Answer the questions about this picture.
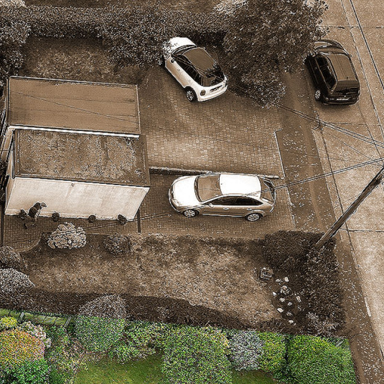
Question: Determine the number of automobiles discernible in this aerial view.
3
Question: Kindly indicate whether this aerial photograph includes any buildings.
Yes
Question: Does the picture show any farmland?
No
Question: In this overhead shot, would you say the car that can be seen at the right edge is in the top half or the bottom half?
top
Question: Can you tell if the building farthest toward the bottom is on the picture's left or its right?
left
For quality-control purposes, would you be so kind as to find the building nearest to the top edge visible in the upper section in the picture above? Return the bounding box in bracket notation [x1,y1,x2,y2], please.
[0,74,141,154]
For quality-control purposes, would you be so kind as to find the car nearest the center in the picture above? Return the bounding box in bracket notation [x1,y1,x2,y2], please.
[168,170,280,227]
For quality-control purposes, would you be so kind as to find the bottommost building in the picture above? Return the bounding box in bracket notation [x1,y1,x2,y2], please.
[2,121,150,221]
